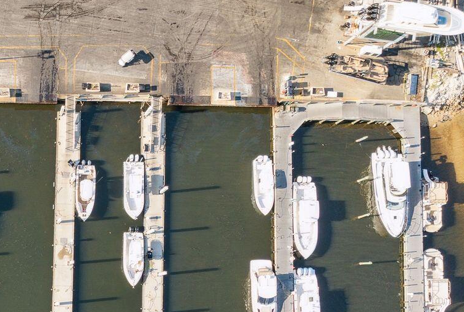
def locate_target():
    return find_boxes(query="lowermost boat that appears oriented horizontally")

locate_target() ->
[321,55,388,88]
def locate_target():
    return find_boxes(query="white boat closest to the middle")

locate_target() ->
[250,153,272,218]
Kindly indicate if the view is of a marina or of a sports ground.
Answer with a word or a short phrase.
marina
